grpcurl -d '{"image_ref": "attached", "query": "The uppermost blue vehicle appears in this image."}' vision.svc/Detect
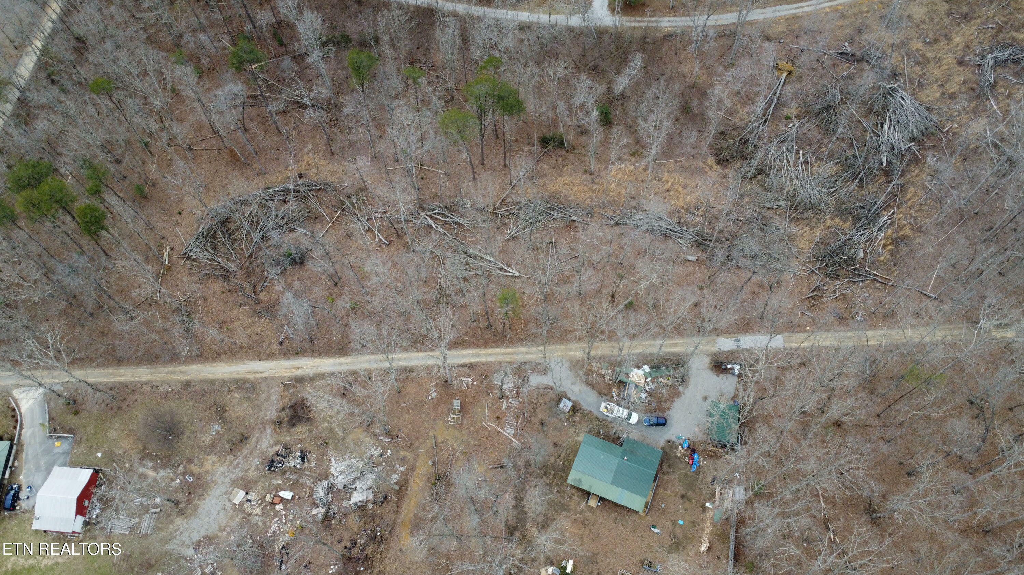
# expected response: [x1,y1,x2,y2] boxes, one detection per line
[643,414,667,428]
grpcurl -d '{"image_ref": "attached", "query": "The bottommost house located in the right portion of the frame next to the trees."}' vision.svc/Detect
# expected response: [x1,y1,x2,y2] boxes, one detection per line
[567,434,662,517]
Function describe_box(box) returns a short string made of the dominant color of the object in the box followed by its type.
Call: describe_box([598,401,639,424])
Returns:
white truck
